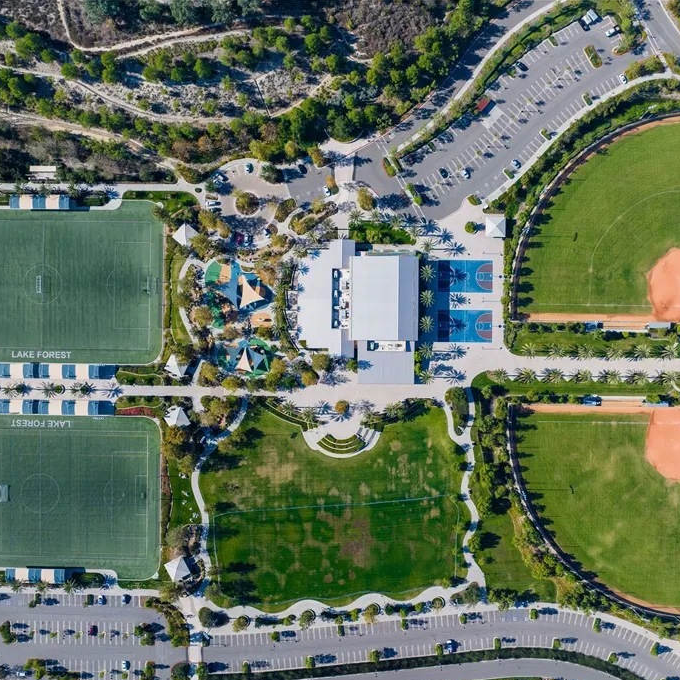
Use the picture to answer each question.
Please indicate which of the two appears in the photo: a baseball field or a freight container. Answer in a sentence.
Of the two, only a baseball field appears.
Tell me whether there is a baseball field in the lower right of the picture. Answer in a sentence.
Yes, a baseball field shows up in the lower right of the picture.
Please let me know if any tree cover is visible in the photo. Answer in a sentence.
Yes, some tree cover is visible.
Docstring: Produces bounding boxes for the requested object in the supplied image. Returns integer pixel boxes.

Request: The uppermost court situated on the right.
[439,260,493,292]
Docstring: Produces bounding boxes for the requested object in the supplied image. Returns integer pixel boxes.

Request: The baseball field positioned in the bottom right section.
[508,404,680,617]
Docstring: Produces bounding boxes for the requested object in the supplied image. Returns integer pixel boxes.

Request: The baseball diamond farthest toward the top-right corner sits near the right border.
[509,115,680,323]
